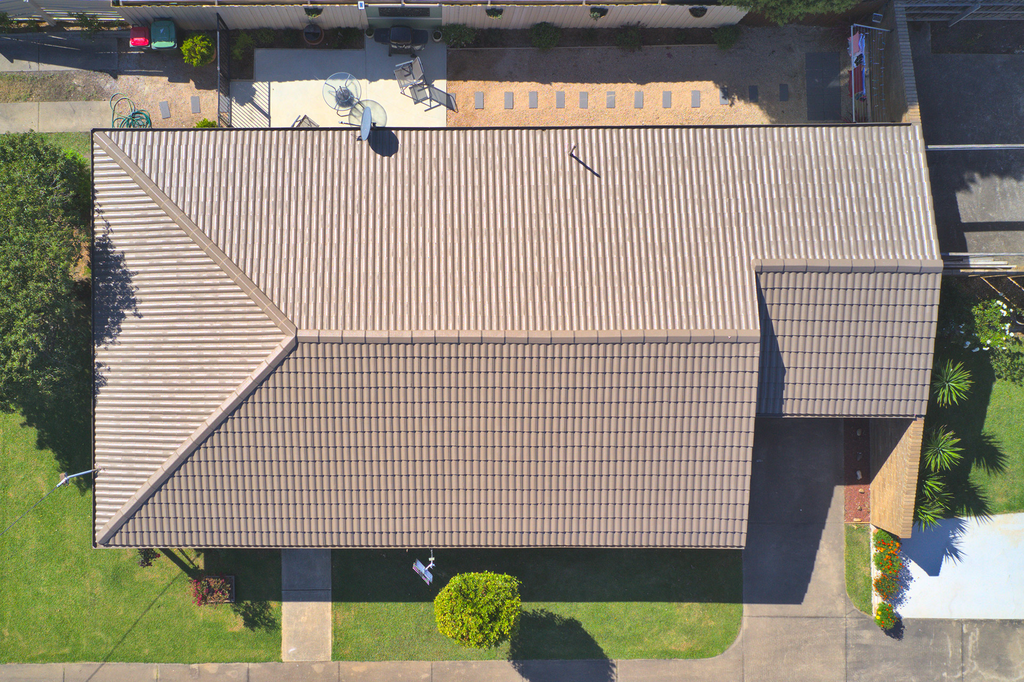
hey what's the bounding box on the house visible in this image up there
[93,126,945,548]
